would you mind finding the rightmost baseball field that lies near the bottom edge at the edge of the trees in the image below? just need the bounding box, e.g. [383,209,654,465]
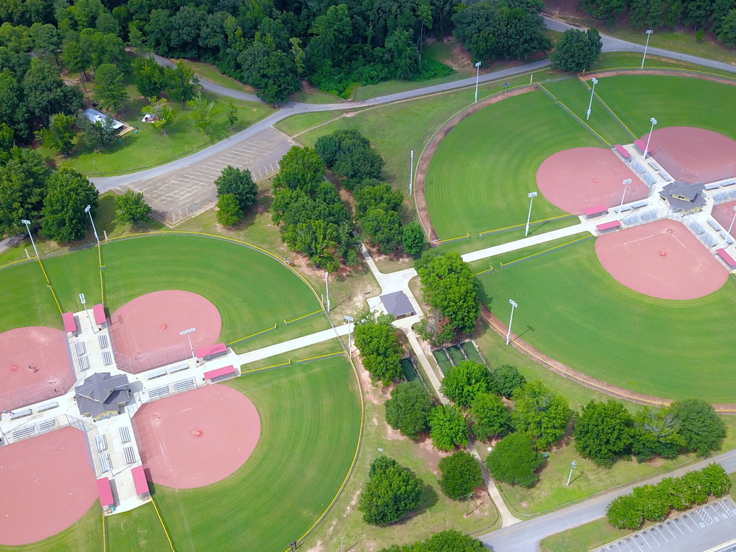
[129,352,365,552]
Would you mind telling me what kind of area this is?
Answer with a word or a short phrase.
sports ground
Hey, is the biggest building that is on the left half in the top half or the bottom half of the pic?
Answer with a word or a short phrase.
bottom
